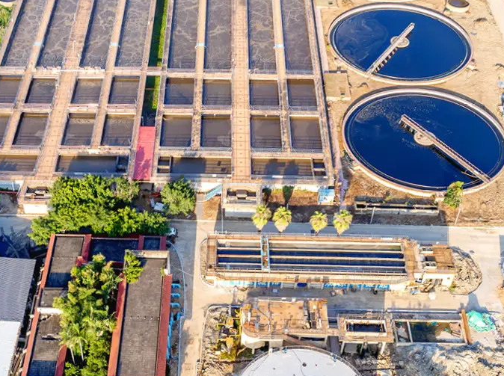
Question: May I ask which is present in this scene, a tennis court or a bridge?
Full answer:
Looking from above, you can make out a bridge.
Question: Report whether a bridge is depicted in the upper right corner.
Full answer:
Yes, you'll find a bridge in the upper right corner.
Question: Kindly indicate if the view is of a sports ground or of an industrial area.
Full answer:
The area seen from above is an industrial area.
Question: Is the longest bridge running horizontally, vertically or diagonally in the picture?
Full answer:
The longest bridge has been laid out diagonally relative to the frame.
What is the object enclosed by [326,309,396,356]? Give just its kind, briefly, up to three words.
water tank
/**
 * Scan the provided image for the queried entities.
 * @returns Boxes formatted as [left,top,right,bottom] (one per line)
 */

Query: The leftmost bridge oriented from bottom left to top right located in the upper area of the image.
[364,20,416,77]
